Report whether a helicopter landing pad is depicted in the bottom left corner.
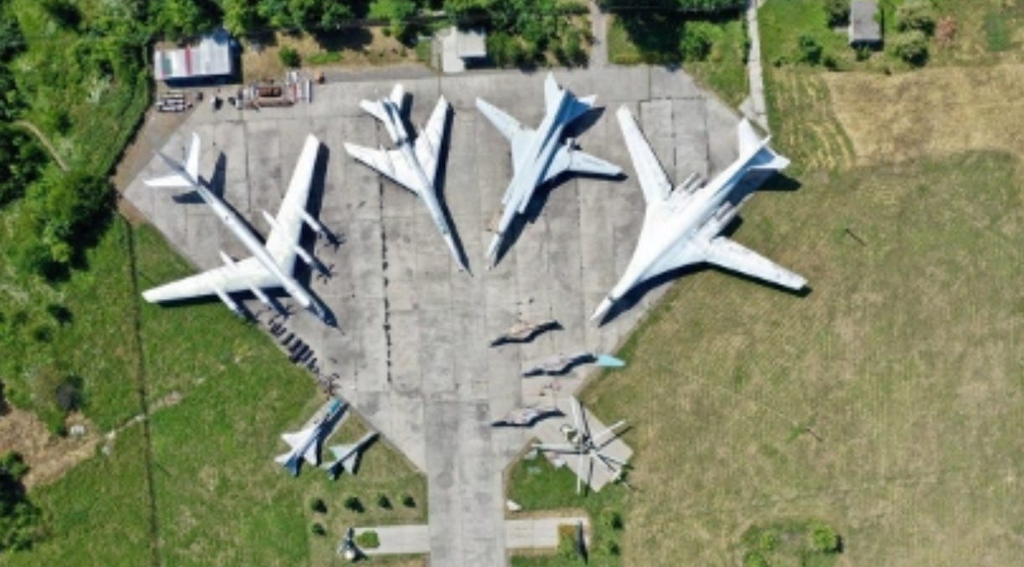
No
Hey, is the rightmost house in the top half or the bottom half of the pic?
top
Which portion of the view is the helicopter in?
bottom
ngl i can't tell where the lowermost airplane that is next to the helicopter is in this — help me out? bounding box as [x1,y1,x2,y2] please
[488,403,562,434]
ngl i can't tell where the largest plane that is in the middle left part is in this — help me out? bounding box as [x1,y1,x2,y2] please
[143,132,336,325]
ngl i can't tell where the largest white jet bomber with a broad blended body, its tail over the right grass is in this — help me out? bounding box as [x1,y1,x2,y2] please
[592,103,807,319]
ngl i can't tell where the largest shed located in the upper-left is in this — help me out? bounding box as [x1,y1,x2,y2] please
[155,33,234,81]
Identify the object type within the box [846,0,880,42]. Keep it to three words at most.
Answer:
house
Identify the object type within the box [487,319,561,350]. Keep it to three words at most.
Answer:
airplane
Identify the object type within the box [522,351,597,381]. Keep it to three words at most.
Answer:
airplane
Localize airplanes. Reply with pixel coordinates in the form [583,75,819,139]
[475,74,626,268]
[522,351,597,381]
[488,403,562,434]
[143,132,336,325]
[273,398,345,477]
[487,319,561,350]
[320,430,381,480]
[341,78,470,275]
[592,103,807,319]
